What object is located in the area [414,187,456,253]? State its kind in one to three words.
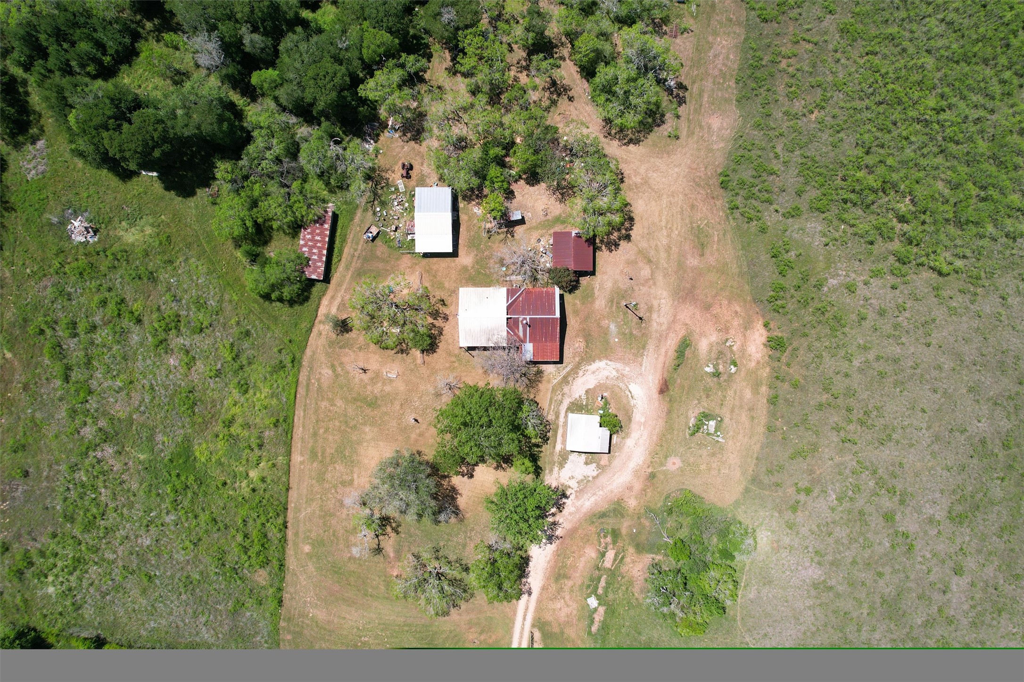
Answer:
building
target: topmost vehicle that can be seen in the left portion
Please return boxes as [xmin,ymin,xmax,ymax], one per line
[399,160,411,178]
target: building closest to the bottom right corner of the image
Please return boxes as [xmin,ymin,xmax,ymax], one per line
[566,413,610,453]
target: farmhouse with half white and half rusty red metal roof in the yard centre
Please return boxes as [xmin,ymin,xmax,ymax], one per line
[457,287,560,361]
